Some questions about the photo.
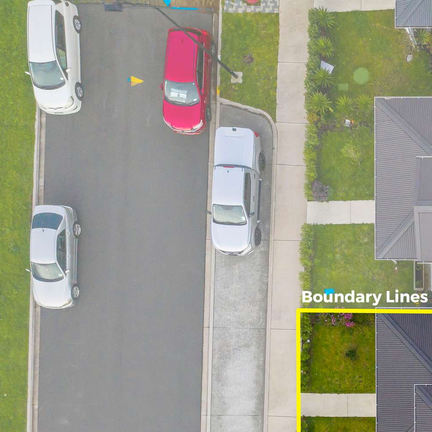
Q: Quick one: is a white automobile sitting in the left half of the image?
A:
Yes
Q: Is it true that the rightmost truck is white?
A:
Yes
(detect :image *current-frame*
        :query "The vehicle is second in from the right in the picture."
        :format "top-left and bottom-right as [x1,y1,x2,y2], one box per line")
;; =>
[155,26,217,133]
